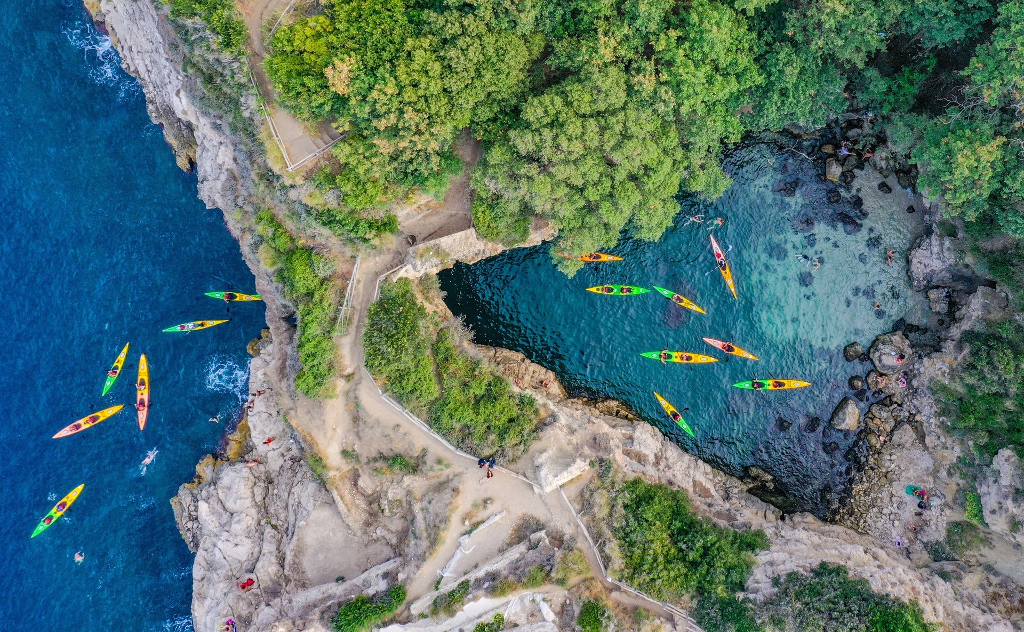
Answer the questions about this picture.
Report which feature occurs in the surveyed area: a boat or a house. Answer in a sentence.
The image shows a boat.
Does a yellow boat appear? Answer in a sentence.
Yes, there is a yellow boat in the image.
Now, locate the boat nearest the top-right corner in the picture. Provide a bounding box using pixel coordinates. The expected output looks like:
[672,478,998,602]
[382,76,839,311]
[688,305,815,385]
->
[711,236,738,299]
